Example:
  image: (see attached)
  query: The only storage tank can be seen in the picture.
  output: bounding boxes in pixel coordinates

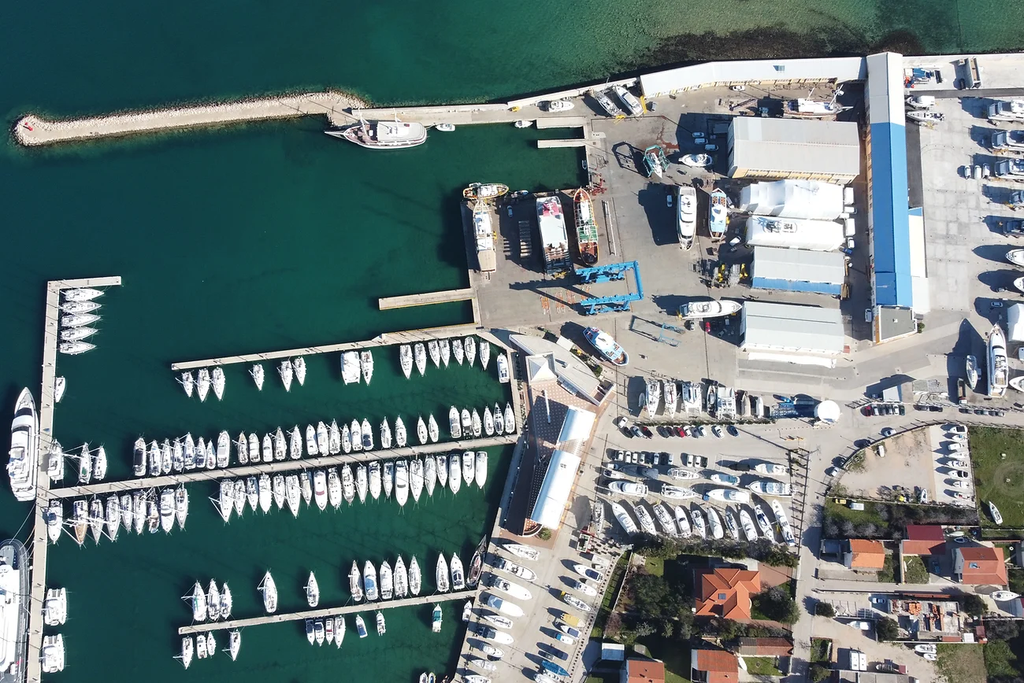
[806,399,841,432]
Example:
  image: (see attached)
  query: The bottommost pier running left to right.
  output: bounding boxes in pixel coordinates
[178,590,476,635]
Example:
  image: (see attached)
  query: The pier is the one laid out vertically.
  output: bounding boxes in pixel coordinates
[31,276,123,683]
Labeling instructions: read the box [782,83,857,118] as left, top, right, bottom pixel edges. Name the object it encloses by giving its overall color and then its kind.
white ship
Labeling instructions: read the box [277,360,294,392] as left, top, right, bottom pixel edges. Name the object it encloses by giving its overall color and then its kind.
white boat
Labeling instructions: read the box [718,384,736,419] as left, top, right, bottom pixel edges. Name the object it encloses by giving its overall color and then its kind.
white boat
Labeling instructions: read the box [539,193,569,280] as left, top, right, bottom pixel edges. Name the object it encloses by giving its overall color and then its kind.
white ship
